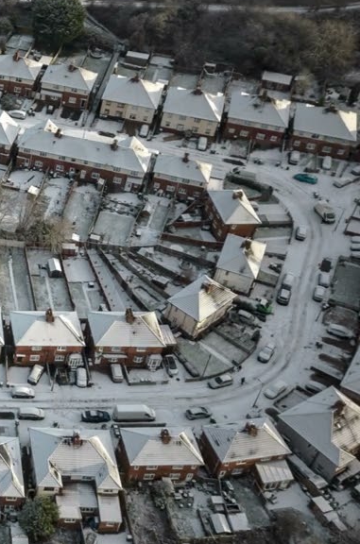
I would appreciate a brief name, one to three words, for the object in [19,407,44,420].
vehicle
